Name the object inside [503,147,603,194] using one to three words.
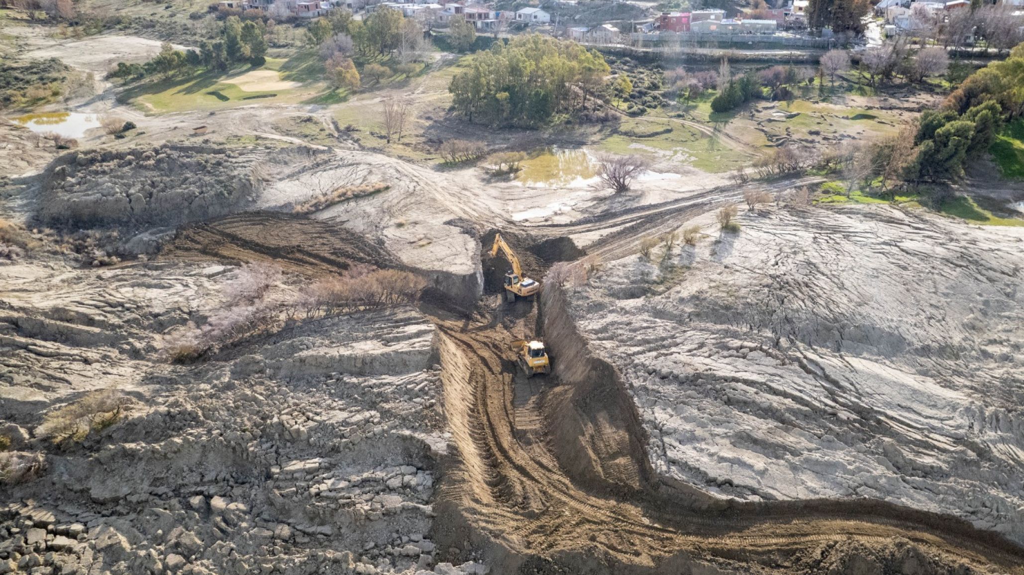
pond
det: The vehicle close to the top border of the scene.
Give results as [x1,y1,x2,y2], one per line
[876,20,899,35]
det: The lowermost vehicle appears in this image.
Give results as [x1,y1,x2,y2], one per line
[510,335,550,376]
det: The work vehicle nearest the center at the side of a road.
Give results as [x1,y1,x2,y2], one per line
[489,234,539,305]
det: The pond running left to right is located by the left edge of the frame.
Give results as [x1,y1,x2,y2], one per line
[7,111,105,141]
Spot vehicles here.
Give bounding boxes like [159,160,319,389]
[489,234,539,305]
[876,20,899,35]
[510,335,550,376]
